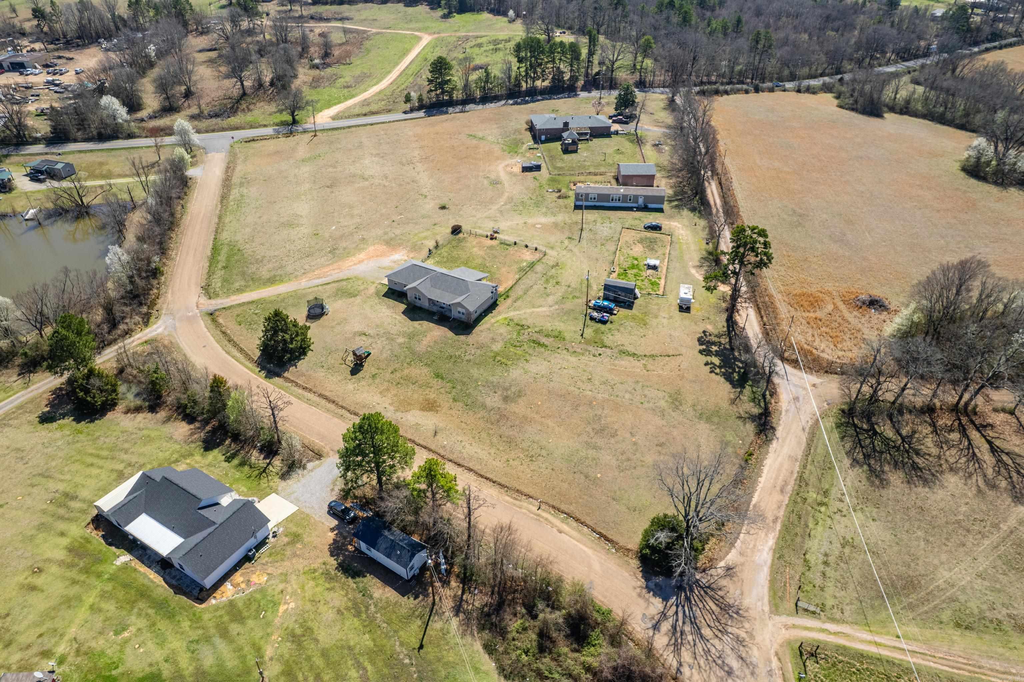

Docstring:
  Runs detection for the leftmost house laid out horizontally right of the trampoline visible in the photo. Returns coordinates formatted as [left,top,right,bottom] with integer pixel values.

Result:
[385,256,500,324]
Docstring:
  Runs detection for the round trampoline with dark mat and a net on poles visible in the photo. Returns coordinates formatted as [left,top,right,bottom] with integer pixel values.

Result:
[304,297,330,316]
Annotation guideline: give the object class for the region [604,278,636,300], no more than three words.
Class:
shed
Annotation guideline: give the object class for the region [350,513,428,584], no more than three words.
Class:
building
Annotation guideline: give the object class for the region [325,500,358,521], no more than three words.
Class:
car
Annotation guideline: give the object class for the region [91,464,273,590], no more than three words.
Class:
house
